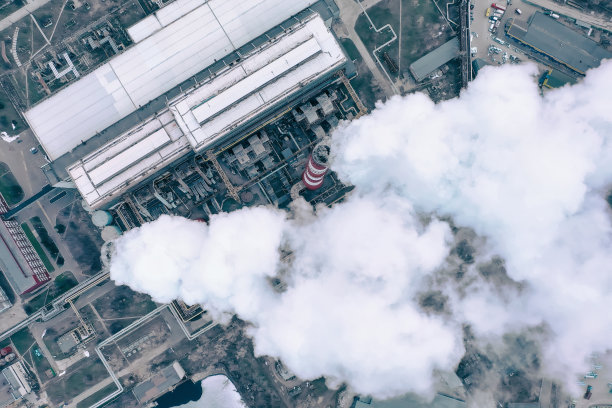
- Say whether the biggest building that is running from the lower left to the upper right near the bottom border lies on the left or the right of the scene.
left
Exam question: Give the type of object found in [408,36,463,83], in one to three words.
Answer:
building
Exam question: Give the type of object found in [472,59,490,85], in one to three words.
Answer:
shed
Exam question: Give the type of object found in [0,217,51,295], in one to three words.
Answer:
building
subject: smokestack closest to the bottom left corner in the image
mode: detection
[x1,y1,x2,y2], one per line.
[192,213,209,226]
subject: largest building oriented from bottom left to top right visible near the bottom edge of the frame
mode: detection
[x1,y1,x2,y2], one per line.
[133,360,186,405]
